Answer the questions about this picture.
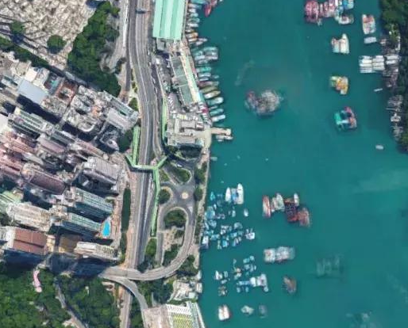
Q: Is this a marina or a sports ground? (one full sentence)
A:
This looks like a marina.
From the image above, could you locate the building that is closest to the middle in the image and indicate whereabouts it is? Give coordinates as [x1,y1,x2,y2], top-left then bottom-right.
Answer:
[166,120,209,146]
